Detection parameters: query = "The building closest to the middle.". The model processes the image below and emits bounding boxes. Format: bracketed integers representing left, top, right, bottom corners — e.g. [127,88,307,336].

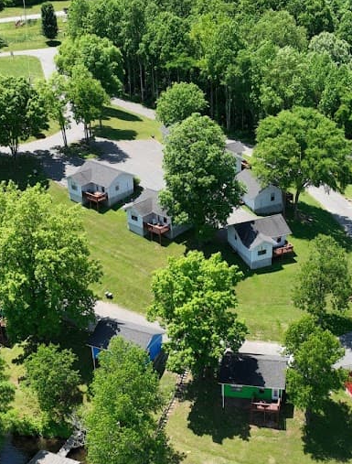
[118,188,194,244]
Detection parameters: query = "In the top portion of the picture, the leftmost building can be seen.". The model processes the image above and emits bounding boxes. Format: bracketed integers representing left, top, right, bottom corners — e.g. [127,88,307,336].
[63,160,136,208]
